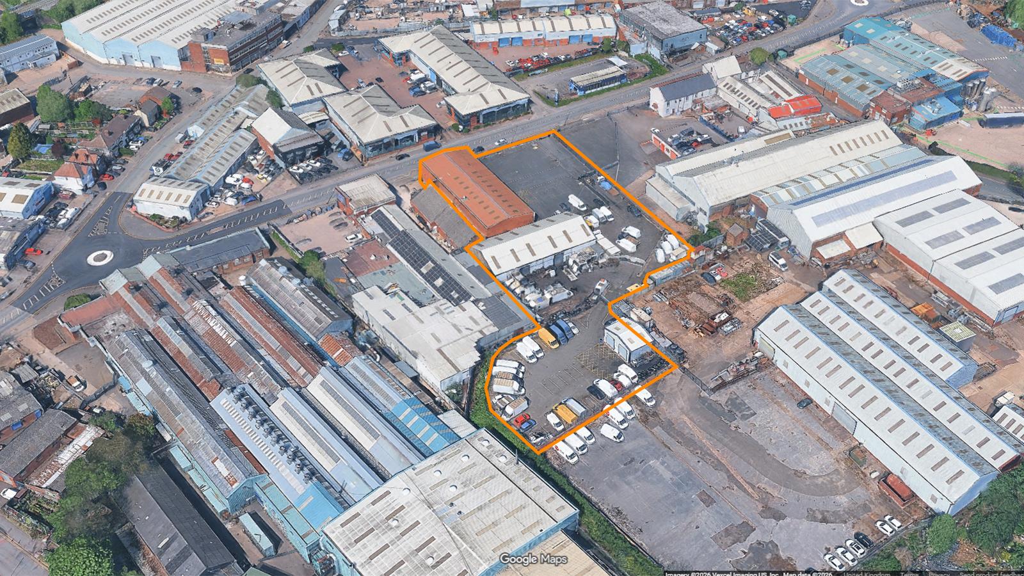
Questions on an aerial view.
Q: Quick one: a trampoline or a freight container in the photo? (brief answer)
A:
freight container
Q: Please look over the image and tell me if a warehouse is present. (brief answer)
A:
Yes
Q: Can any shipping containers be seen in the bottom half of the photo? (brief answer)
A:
Yes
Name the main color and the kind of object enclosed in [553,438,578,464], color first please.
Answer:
white vehicle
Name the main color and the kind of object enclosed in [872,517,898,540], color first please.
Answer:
white car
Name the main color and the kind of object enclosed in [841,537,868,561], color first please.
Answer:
white car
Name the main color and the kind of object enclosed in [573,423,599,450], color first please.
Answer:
white vehicle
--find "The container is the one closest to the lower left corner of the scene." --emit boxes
[239,513,276,561]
